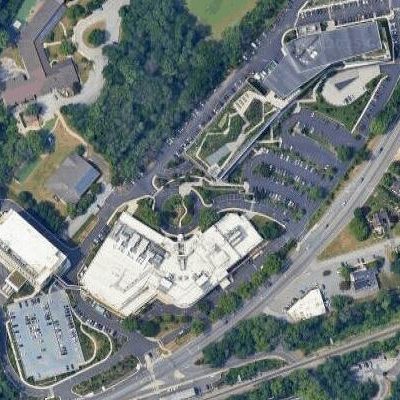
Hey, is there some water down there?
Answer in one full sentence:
No, the picture contains no water.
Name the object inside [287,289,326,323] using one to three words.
building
